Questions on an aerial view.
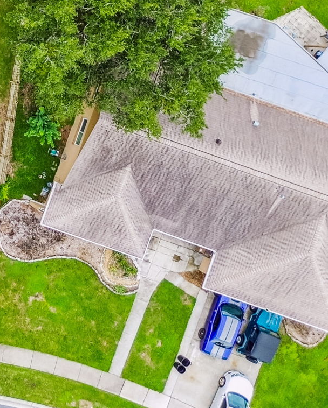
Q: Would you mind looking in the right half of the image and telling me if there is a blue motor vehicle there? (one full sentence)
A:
Yes, you'll find a blue motor vehicle in the right half of the image.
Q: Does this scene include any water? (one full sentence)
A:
No, the picture contains no water.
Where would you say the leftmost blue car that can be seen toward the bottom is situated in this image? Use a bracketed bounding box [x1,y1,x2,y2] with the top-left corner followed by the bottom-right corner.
[202,293,251,364]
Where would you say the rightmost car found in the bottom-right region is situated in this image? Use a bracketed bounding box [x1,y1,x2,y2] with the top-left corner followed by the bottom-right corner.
[238,306,288,369]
